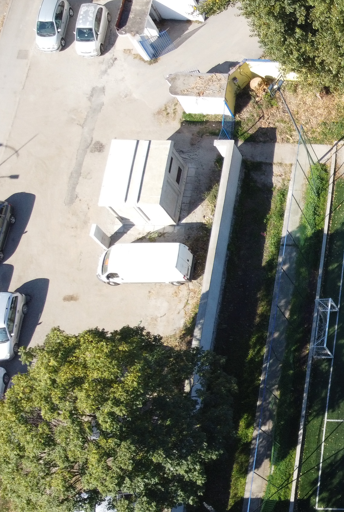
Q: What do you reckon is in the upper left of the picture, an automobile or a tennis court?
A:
automobile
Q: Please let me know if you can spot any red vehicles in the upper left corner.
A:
No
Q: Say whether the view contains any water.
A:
No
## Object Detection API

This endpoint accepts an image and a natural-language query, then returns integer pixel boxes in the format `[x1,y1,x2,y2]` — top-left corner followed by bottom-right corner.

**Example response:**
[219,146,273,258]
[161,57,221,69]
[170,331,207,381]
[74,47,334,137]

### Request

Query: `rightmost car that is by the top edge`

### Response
[70,6,110,58]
